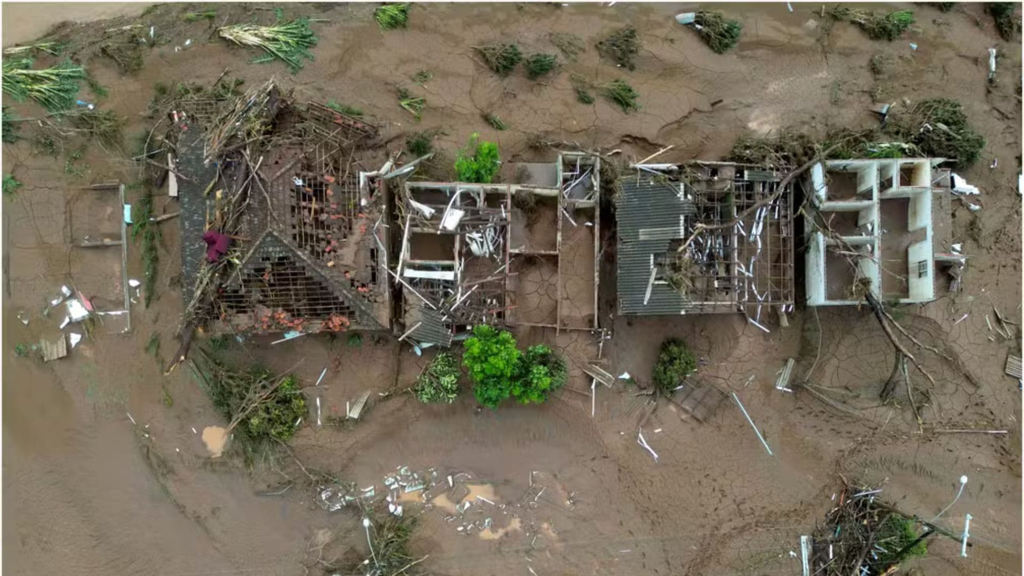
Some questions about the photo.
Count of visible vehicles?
none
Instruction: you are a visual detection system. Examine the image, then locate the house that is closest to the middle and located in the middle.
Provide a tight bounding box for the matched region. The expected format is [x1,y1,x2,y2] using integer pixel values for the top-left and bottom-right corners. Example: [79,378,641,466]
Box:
[403,153,600,332]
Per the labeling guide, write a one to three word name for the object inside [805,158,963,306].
house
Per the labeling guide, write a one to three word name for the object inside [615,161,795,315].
house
